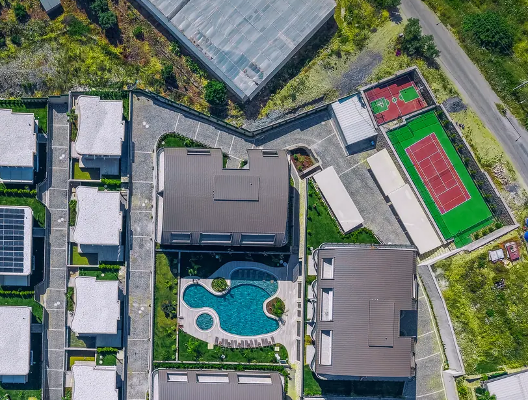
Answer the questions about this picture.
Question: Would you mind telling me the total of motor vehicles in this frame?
none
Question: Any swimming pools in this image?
Yes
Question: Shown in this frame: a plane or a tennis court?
tennis court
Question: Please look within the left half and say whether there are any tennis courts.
No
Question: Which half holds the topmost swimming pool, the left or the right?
left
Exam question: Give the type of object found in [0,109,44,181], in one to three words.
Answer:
house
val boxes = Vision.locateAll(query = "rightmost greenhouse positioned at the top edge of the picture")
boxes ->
[143,0,340,103]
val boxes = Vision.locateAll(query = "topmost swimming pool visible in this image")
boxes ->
[70,157,101,181]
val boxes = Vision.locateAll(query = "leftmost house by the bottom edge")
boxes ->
[0,306,38,383]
